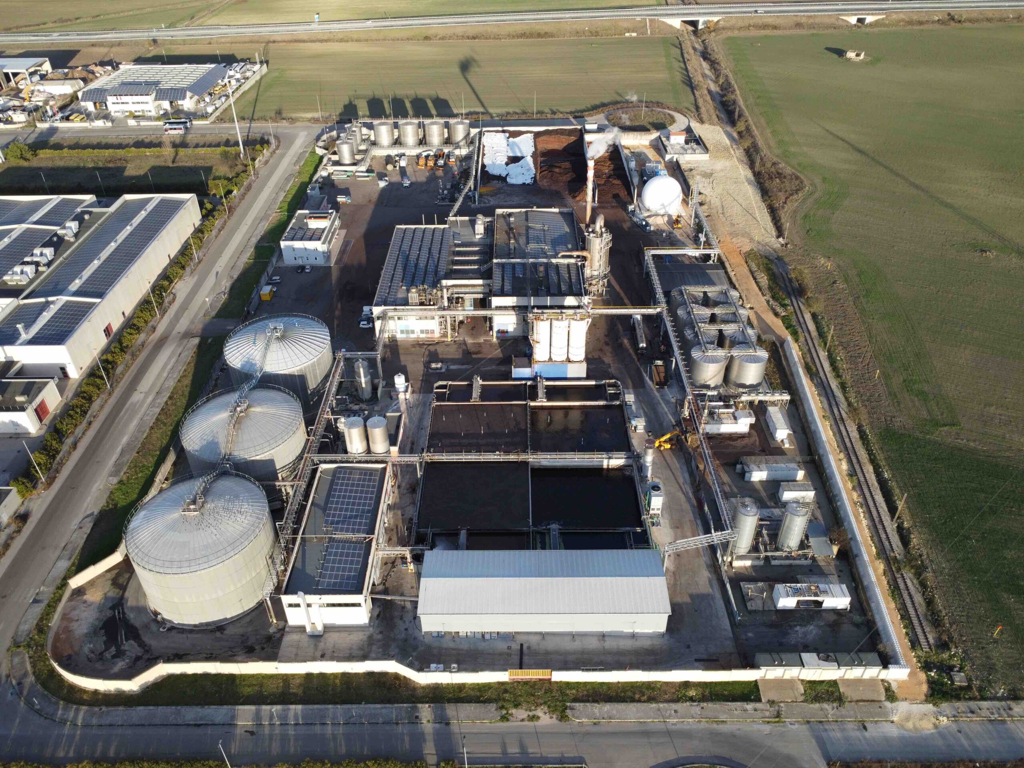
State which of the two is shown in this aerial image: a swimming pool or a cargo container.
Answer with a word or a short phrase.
cargo container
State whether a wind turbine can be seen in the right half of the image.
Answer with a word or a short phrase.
No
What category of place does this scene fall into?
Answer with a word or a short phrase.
industrial area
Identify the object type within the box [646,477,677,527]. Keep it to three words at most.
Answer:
cooling tower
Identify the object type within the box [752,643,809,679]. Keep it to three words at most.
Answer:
building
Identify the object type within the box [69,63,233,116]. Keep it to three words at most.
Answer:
building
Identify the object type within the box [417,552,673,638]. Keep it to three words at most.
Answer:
shed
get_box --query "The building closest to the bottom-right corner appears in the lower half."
[833,643,891,679]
